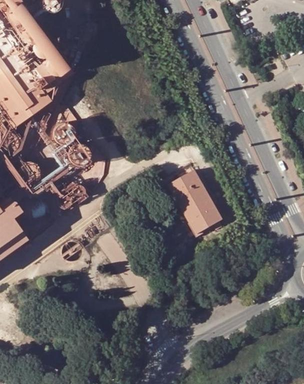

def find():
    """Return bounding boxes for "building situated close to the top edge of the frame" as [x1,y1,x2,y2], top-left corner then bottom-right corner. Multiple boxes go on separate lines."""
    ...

[0,0,72,127]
